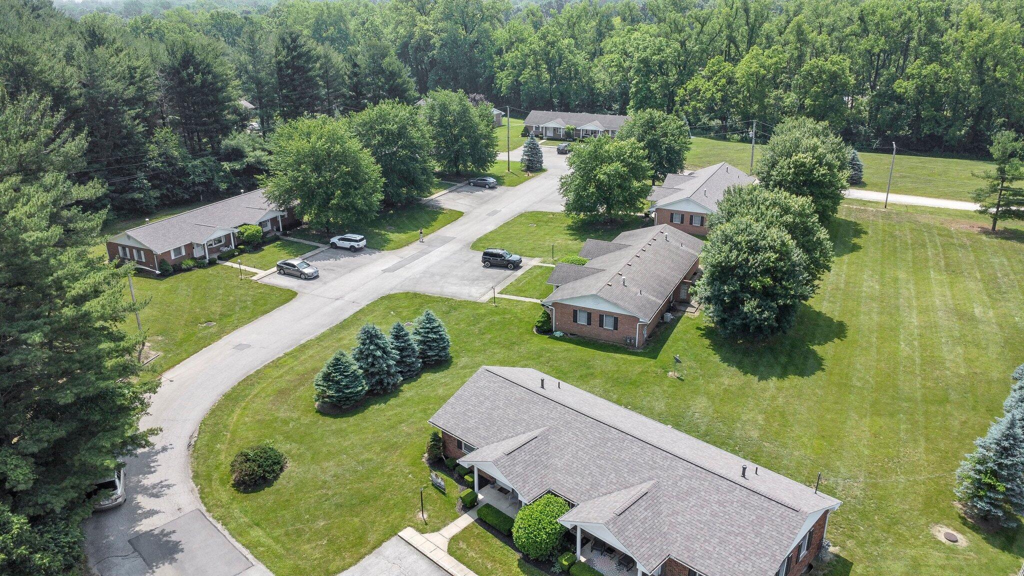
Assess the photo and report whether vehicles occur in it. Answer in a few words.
Yes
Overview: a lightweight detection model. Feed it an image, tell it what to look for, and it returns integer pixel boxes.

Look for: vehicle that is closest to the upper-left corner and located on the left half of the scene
[275,258,320,279]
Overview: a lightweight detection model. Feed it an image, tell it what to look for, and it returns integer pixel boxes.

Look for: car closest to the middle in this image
[478,245,525,270]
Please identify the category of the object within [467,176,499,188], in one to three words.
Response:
vehicle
